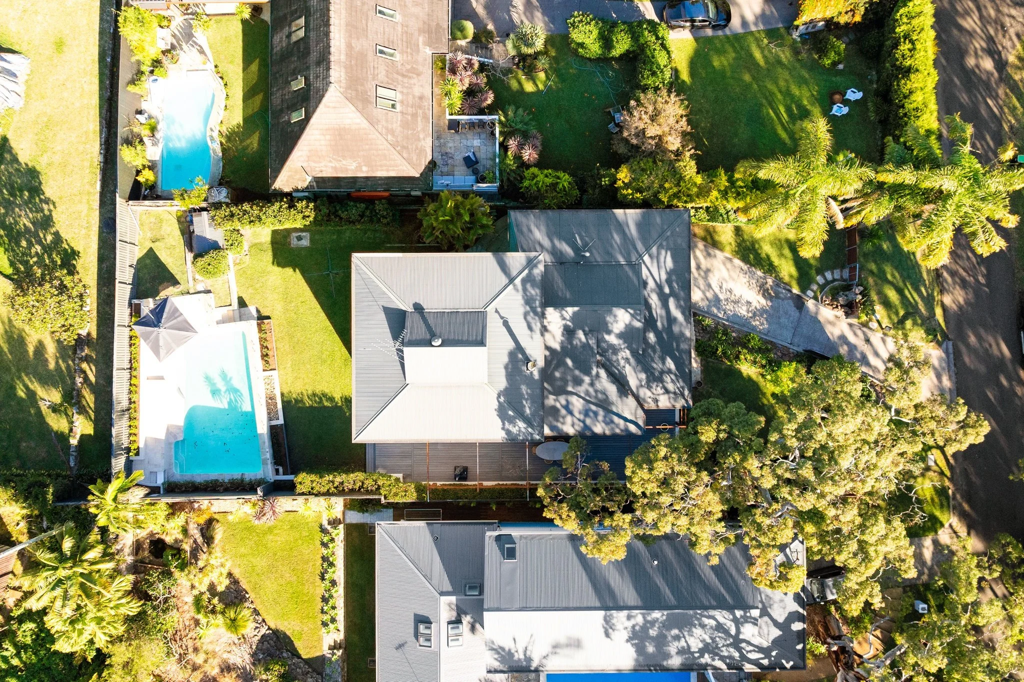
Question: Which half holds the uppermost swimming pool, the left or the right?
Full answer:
The uppermost swimming pool is on the left side of the image.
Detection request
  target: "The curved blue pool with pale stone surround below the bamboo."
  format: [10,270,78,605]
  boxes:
[155,65,220,196]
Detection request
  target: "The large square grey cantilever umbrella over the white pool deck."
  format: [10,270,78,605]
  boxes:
[132,296,199,362]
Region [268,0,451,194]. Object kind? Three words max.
house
